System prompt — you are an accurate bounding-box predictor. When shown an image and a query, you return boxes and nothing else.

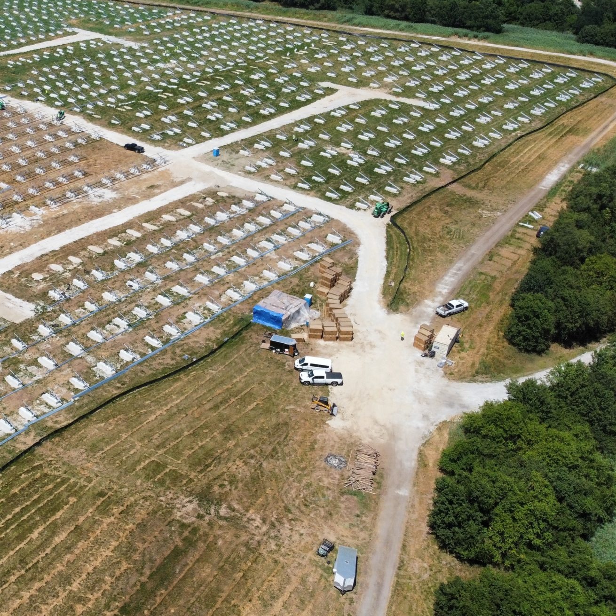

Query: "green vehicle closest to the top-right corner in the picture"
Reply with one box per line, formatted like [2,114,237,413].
[370,199,396,216]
